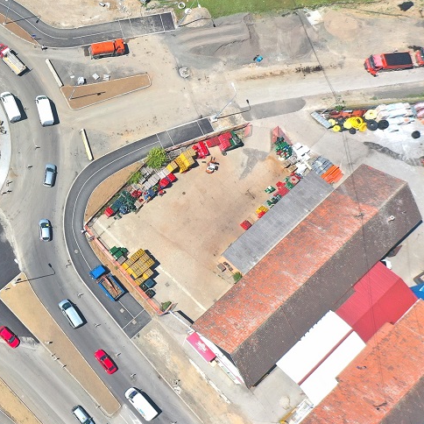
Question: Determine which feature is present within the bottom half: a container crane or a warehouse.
warehouse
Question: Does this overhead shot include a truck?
Yes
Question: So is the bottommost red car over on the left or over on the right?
left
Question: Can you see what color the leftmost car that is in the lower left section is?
red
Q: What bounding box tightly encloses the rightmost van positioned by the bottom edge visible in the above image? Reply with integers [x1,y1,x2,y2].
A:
[126,385,161,424]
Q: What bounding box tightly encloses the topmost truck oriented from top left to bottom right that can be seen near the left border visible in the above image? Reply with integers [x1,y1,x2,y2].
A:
[0,38,28,76]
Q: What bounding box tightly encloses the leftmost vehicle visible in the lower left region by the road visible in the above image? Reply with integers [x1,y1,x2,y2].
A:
[0,323,22,349]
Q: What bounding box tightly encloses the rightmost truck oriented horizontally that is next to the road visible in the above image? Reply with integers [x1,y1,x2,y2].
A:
[362,47,420,71]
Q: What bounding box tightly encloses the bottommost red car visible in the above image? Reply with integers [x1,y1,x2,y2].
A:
[95,347,119,376]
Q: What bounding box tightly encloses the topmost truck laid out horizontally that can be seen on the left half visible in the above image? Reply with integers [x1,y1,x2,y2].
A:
[85,36,129,61]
